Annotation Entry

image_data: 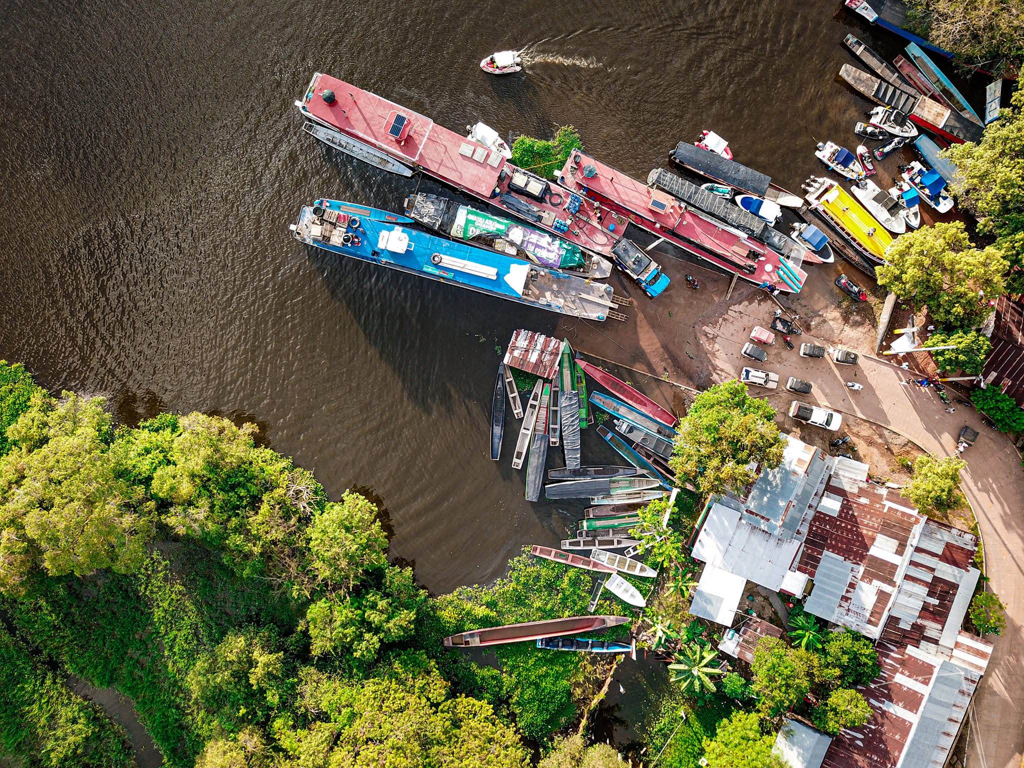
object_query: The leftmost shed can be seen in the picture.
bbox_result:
[501,325,568,382]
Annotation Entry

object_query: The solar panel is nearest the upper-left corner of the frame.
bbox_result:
[389,114,408,138]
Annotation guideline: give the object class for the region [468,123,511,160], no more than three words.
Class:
boat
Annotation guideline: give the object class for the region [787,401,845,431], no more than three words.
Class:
truck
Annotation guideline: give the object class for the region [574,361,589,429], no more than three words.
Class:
boat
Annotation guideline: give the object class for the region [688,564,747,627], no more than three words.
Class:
shed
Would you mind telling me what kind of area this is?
port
